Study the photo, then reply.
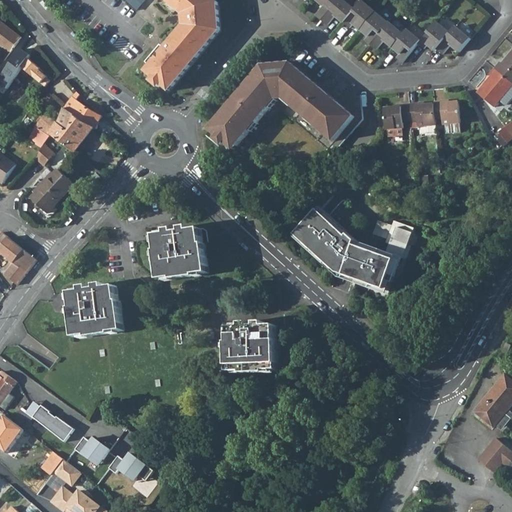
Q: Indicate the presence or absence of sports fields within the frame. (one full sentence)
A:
No, this view has no sports field in it.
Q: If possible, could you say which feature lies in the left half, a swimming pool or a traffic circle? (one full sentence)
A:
Looking in the left half, you will find a traffic circle.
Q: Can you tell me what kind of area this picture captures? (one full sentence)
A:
The area seen from above is a residential area.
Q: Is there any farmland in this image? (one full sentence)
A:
No, there's no farmland in this view.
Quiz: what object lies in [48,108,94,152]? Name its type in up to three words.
house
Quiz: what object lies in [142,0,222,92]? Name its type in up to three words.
building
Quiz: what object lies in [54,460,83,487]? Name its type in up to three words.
house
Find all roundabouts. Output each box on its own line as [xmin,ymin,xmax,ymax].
[133,110,196,176]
